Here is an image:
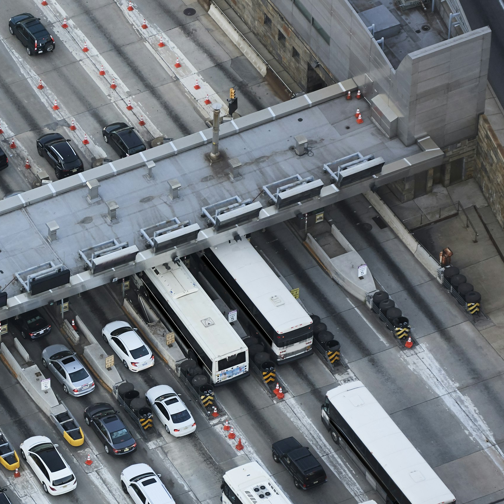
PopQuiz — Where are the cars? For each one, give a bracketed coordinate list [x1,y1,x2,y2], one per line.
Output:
[144,382,198,439]
[20,435,78,500]
[120,465,177,504]
[103,123,147,159]
[84,402,138,461]
[276,438,328,495]
[10,12,56,60]
[103,321,156,376]
[11,308,53,345]
[43,345,97,402]
[36,133,86,179]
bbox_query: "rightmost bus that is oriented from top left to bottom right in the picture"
[322,385,454,504]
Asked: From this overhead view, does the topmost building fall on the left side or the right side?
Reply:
right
